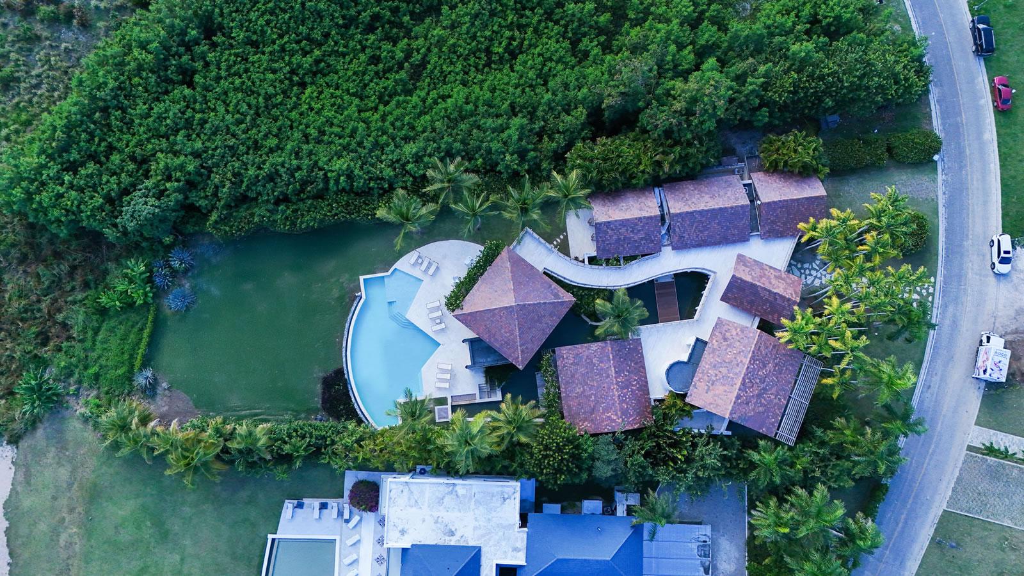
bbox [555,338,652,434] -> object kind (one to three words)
house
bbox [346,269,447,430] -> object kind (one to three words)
swimming pool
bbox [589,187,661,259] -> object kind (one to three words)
house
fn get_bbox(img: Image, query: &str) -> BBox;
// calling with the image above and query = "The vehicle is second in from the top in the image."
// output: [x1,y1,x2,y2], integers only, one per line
[992,75,1016,111]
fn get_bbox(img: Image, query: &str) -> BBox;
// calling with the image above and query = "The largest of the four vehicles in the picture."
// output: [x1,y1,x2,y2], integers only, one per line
[968,331,1011,388]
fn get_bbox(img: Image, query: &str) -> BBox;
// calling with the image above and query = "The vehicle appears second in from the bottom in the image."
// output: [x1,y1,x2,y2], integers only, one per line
[989,233,1014,273]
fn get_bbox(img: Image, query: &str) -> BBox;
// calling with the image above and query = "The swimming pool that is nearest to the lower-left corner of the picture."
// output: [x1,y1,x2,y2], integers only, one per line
[263,533,340,576]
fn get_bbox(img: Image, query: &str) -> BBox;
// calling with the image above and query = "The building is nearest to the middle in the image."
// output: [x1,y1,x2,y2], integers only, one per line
[452,246,576,370]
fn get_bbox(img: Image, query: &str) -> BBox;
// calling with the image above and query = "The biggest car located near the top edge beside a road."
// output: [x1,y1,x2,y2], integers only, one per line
[971,14,998,56]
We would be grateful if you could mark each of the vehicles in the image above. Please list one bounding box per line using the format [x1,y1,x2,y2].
[971,14,998,56]
[968,331,1011,388]
[992,75,1016,111]
[989,233,1014,273]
